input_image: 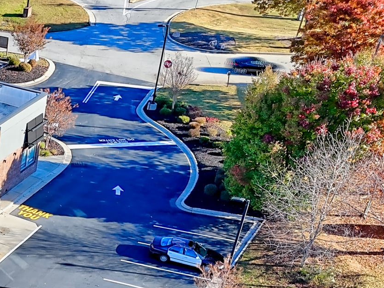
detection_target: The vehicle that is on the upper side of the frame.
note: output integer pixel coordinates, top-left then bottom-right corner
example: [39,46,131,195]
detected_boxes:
[229,56,271,75]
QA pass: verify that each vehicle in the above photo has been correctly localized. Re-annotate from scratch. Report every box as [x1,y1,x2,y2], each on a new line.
[150,234,227,271]
[229,56,271,75]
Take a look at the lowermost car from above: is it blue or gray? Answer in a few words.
blue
